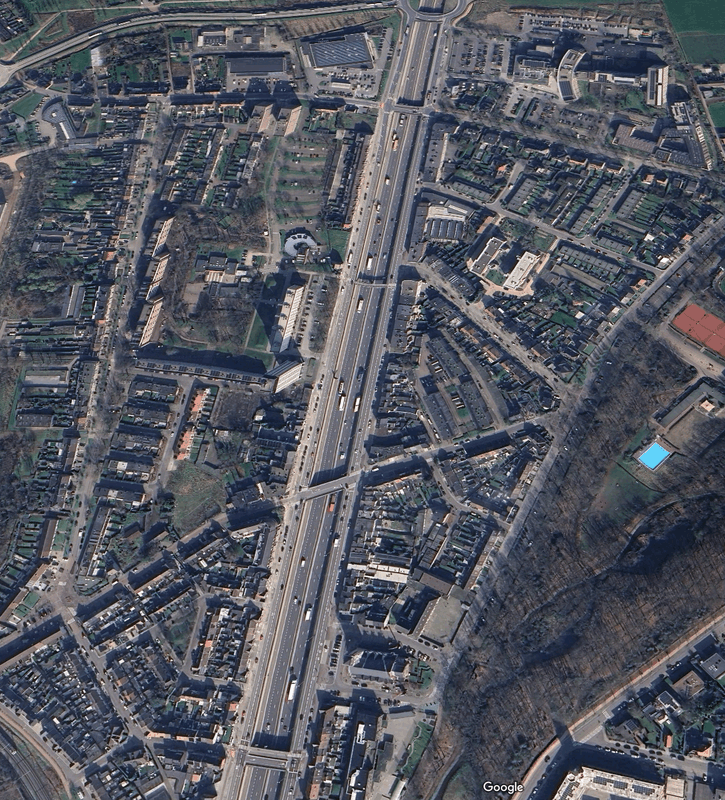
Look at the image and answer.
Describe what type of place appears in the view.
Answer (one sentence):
The picture captures a residential area.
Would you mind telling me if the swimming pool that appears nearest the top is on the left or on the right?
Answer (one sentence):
The swimming pool that appears nearest the top is on the right side of the image.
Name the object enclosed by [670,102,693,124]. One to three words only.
building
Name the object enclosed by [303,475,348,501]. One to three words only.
bridge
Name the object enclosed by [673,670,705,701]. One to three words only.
house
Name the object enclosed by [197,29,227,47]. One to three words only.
building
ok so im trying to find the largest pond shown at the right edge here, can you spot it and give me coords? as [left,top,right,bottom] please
[615,516,718,576]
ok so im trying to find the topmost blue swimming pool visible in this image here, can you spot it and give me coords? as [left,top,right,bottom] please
[638,441,672,473]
